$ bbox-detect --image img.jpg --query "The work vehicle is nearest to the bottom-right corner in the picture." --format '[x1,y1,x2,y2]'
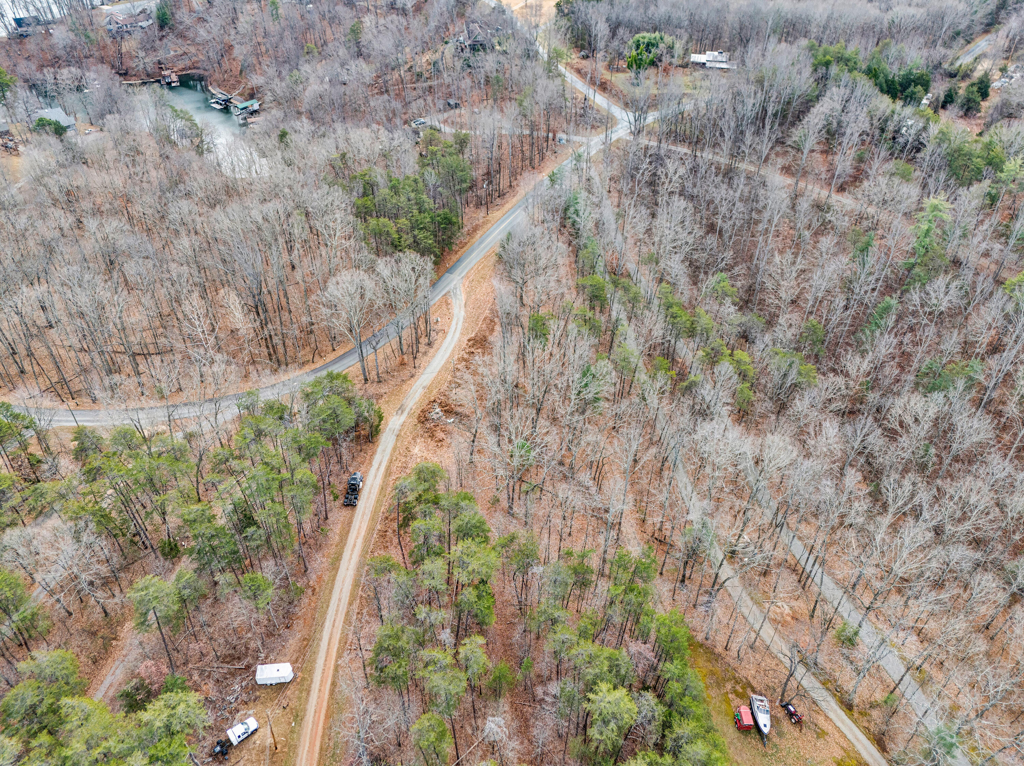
[778,701,806,726]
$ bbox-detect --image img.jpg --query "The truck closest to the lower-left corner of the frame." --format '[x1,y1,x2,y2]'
[214,719,261,756]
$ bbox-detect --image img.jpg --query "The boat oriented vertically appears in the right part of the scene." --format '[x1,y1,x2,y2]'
[753,693,772,751]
